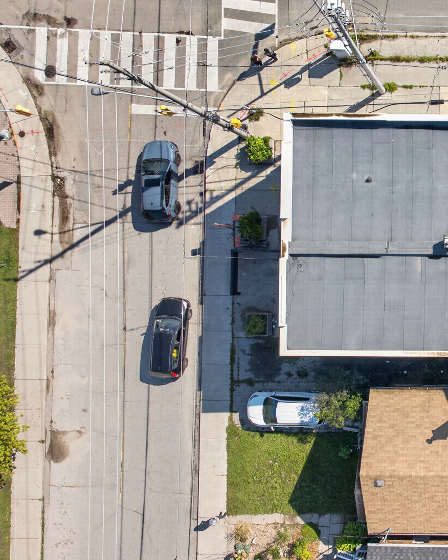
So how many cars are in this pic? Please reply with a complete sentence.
The count of cars comes to 3.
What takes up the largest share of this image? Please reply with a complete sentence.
Most of the picture is covered by paved ground.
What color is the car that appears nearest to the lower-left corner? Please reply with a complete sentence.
The car that appears nearest to the lower-left corner looks black in the image.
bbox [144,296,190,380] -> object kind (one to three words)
car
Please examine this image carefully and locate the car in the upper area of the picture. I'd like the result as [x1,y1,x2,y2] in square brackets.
[135,141,182,224]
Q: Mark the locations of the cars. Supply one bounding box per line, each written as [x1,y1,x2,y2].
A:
[135,141,182,224]
[247,391,332,432]
[144,296,190,380]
